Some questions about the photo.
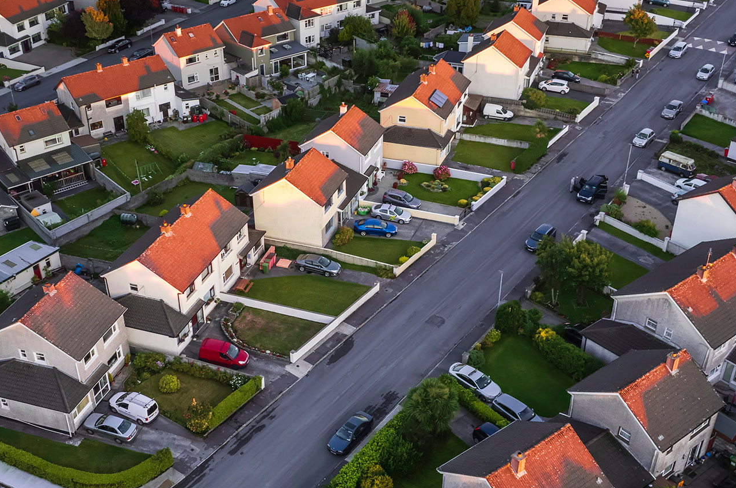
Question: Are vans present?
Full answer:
Yes, there's a van here.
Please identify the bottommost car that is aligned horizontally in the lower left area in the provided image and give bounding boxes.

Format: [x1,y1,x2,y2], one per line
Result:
[83,412,141,444]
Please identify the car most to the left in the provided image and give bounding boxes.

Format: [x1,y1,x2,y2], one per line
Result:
[14,74,42,91]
